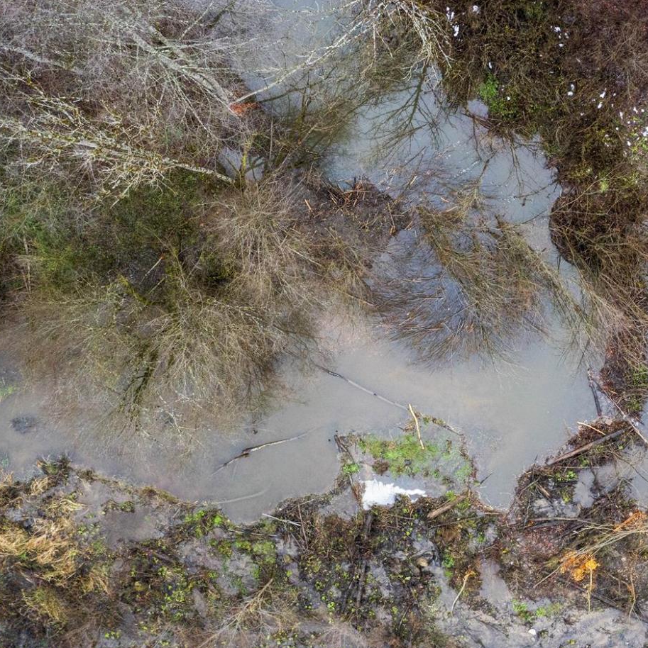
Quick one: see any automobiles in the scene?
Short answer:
No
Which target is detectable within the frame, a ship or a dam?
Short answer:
dam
